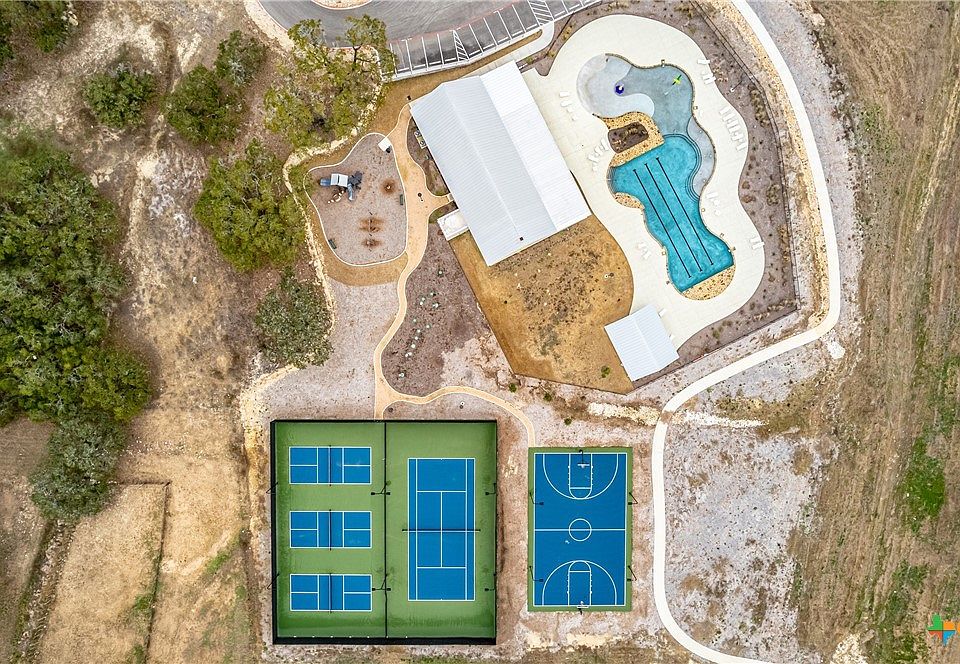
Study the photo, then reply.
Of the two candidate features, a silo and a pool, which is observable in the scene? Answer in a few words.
pool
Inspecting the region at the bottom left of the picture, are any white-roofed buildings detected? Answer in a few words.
No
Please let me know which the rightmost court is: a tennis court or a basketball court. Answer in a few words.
basketball court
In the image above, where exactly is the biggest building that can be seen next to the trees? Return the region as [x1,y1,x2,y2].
[408,60,592,266]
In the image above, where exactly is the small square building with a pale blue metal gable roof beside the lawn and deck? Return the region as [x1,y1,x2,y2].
[605,305,679,382]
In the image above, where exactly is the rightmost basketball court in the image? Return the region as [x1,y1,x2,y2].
[528,447,632,611]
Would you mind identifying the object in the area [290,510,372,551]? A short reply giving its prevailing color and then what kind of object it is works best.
blue sports court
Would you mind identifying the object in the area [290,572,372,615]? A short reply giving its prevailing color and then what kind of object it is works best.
blue sports court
